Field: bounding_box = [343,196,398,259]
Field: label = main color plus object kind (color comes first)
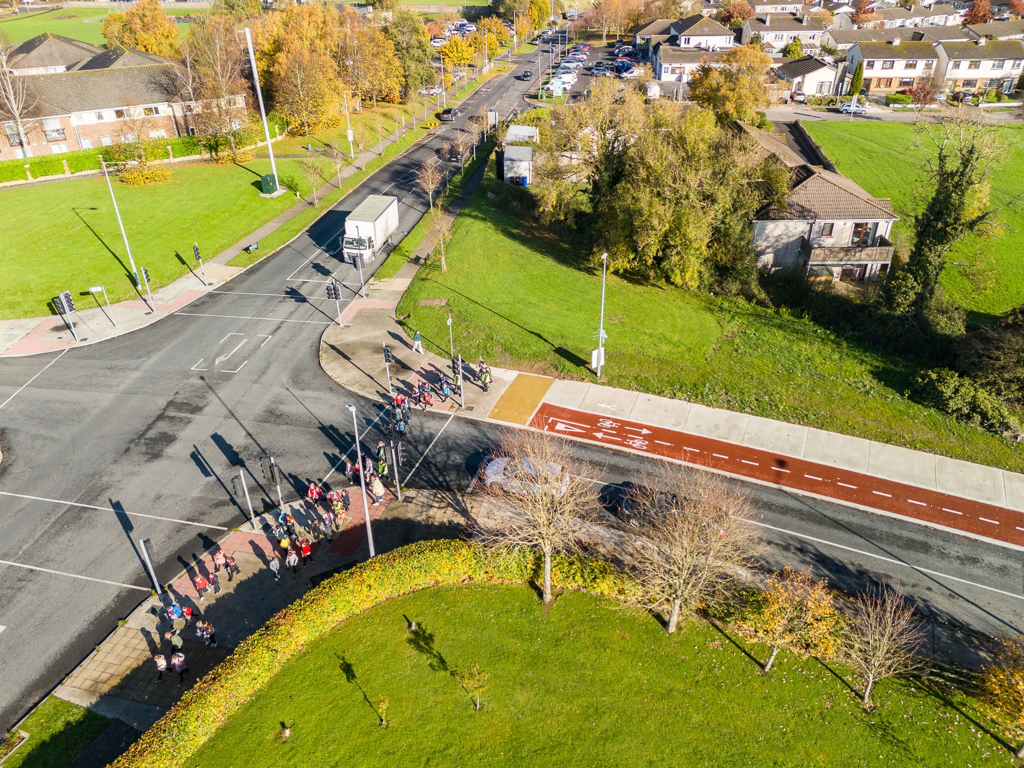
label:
white truck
